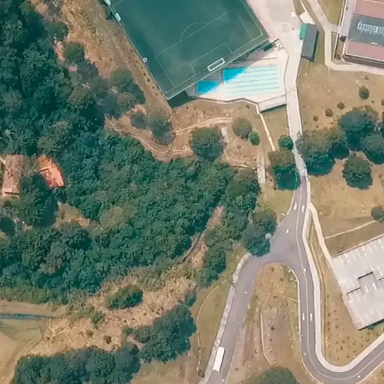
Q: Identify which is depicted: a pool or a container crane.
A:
pool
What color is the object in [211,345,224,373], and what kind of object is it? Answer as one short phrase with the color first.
white vehicle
